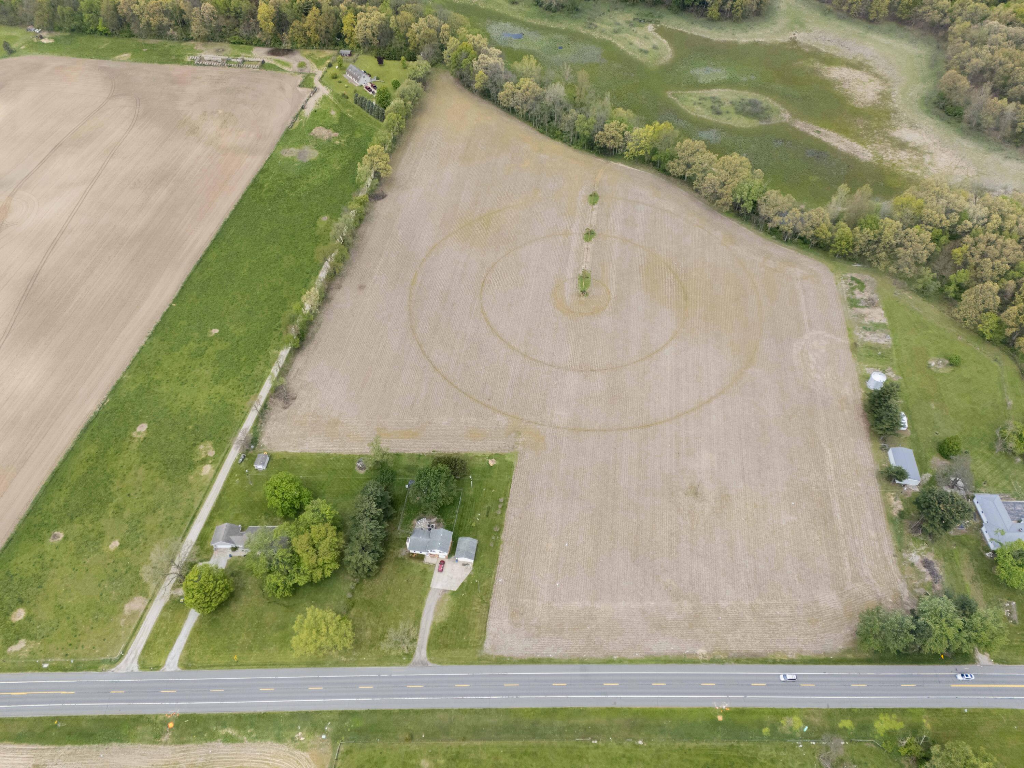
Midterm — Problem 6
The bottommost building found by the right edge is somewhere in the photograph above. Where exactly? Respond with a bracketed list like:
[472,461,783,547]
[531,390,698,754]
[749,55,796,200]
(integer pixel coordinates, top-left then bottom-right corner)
[974,495,1024,551]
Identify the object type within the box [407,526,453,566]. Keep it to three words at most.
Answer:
house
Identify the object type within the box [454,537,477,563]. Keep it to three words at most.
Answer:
building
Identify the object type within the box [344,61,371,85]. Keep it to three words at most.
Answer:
house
